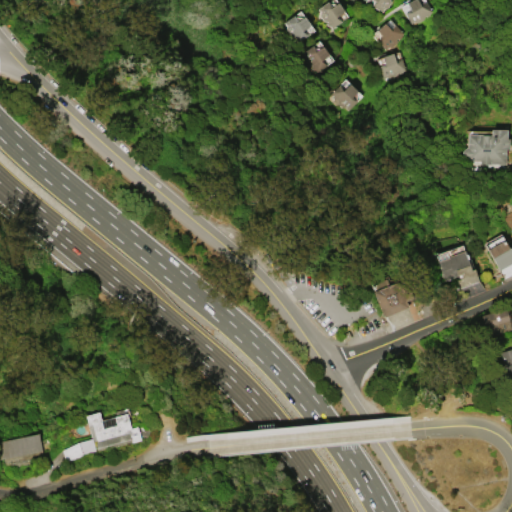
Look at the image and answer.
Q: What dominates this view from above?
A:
trees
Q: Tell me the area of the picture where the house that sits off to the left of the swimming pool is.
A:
bottom left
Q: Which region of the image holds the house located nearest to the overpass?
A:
bottom left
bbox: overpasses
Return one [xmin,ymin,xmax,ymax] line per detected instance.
[186,416,412,454]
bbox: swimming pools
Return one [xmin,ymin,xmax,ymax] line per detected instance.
[72,424,91,440]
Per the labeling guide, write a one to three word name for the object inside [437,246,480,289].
house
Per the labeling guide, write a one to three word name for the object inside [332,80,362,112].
house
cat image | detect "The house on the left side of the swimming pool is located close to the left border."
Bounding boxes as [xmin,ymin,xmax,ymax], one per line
[1,434,43,466]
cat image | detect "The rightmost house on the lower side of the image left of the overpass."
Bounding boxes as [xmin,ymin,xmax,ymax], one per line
[64,412,142,460]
